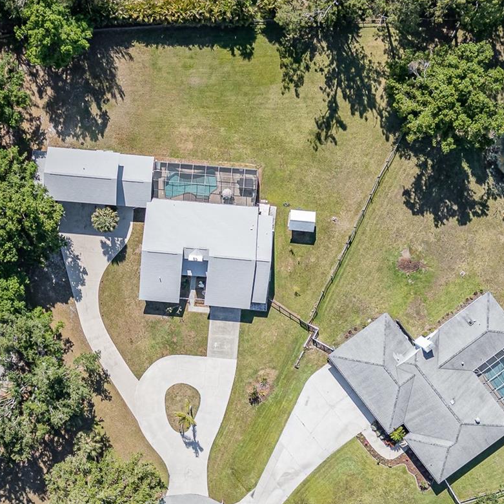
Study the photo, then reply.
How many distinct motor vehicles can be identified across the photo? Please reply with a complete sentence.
I count no motor vehicles.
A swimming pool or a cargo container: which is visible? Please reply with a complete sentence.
Of the two, only a swimming pool appears.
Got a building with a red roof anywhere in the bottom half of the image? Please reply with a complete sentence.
No, no building with a red roof appears in the bottom half of the image.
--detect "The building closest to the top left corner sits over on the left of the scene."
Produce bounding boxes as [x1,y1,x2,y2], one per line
[42,147,154,208]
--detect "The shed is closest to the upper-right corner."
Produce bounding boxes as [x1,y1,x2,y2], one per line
[288,210,318,232]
